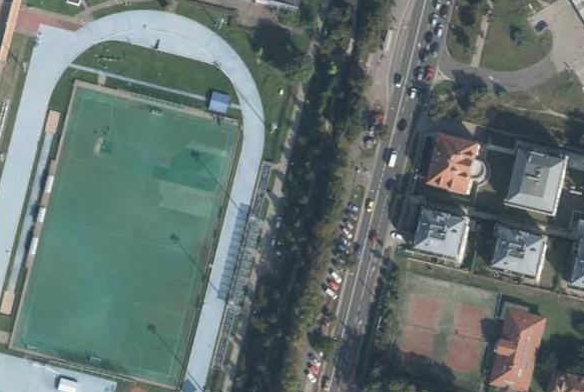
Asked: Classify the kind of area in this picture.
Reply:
sports ground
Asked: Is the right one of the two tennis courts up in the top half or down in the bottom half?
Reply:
bottom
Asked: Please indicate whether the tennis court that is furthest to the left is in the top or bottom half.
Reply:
bottom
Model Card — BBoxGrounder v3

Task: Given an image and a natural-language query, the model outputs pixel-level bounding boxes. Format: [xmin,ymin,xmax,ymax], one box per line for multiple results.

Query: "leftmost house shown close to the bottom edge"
[489,302,546,392]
